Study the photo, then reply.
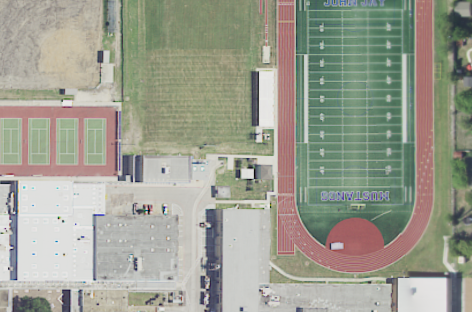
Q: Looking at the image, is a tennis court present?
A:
Yes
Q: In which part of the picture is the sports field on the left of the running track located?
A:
top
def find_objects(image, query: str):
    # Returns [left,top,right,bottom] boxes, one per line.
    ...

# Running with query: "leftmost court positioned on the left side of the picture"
[0,118,22,164]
